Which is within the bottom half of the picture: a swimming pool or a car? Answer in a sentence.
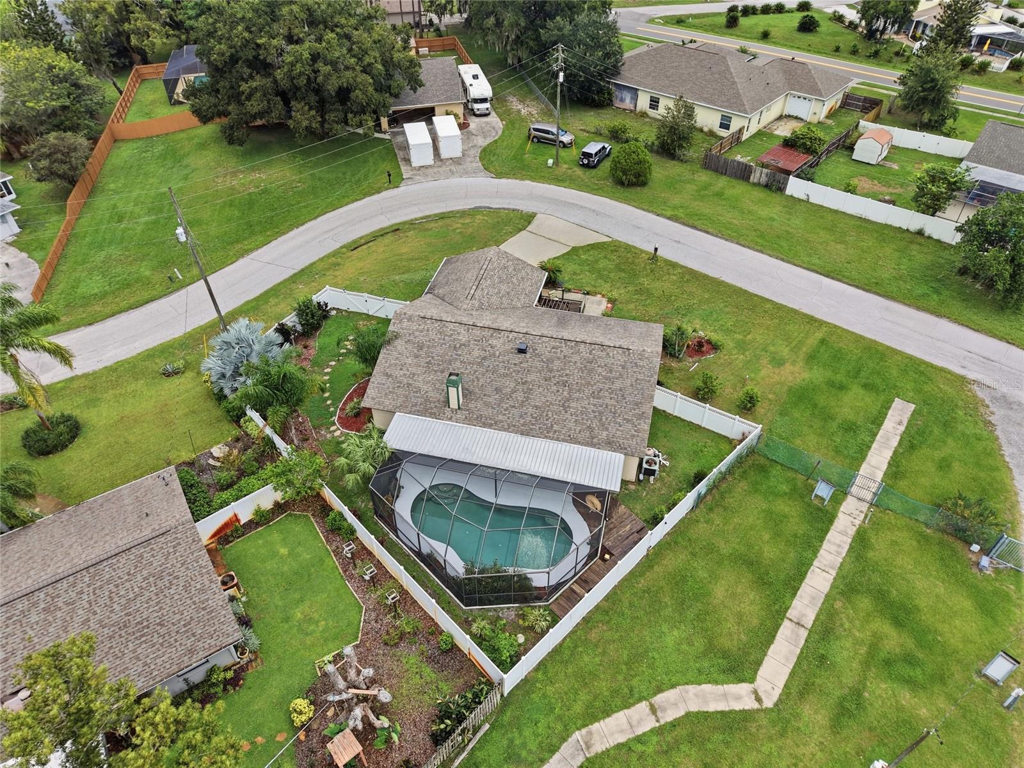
It is a swimming pool that can be seen within the bottom half of the picture.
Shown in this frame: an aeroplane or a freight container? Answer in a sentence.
Of the two, only a freight container appears.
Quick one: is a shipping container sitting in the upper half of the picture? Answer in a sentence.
Yes, a shipping container appears in the upper half of the picture.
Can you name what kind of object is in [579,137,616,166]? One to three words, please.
car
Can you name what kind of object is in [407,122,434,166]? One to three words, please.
shipping container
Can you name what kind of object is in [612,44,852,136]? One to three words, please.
house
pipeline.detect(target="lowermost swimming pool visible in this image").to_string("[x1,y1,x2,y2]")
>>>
[410,481,573,569]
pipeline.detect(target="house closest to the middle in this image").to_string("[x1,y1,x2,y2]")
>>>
[360,246,664,519]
